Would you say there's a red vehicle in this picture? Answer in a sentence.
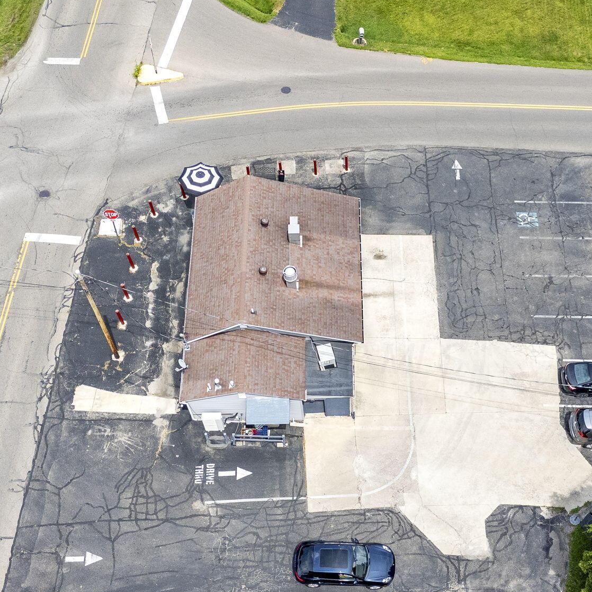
No, the frame has no red vehicle in it.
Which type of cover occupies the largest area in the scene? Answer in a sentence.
The largest share of the image is taken up by paved ground.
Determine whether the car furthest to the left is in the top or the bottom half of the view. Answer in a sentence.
You can find the car furthest to the left in the bottom half.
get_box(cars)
[566,408,592,448]
[558,360,592,397]
[293,538,395,591]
